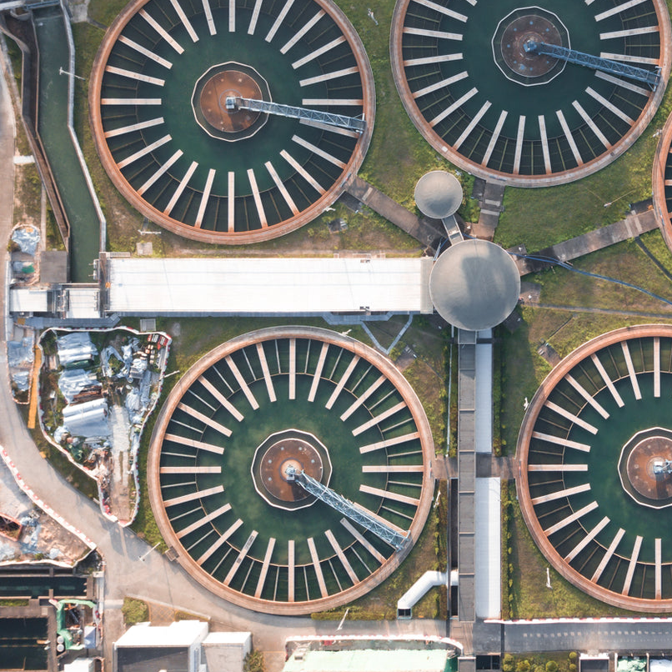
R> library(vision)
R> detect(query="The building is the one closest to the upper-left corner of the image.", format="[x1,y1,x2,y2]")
[41,251,79,284]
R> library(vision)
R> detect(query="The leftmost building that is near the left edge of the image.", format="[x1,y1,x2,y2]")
[9,288,54,311]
